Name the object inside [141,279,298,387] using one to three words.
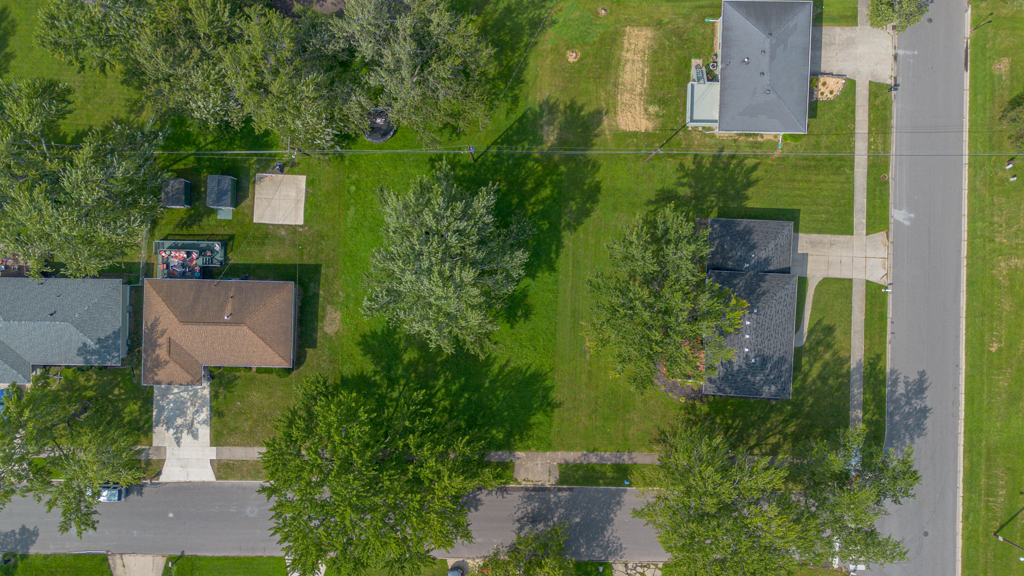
house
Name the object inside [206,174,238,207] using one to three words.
shed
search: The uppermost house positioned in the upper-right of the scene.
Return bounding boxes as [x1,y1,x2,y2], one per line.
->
[713,0,813,136]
